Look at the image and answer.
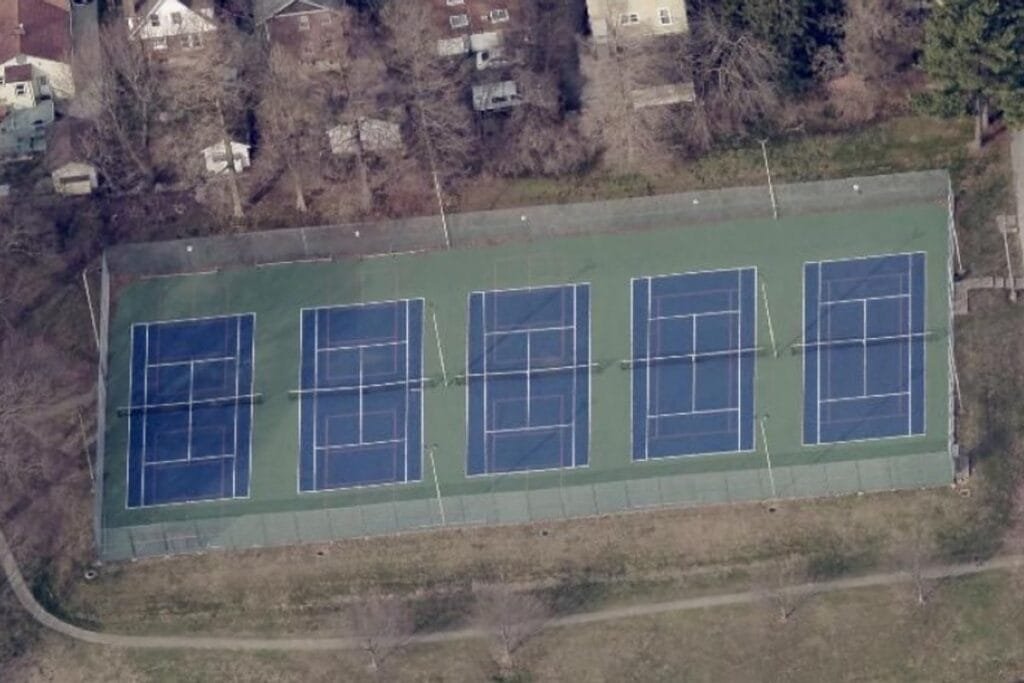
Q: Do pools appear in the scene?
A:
No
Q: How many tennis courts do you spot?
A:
five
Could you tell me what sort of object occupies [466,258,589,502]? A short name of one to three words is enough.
tennis court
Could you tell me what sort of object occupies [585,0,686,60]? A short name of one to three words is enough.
house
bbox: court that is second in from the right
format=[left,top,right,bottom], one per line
[633,267,756,460]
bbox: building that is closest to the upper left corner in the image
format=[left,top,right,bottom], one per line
[0,0,79,115]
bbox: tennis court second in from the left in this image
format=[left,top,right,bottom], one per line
[298,274,423,518]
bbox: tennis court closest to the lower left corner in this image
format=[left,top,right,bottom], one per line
[126,290,254,533]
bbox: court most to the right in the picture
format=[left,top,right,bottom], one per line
[801,252,928,445]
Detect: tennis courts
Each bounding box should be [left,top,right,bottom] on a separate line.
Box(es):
[298,274,423,518]
[801,252,928,445]
[466,258,589,502]
[633,267,756,460]
[126,290,254,533]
